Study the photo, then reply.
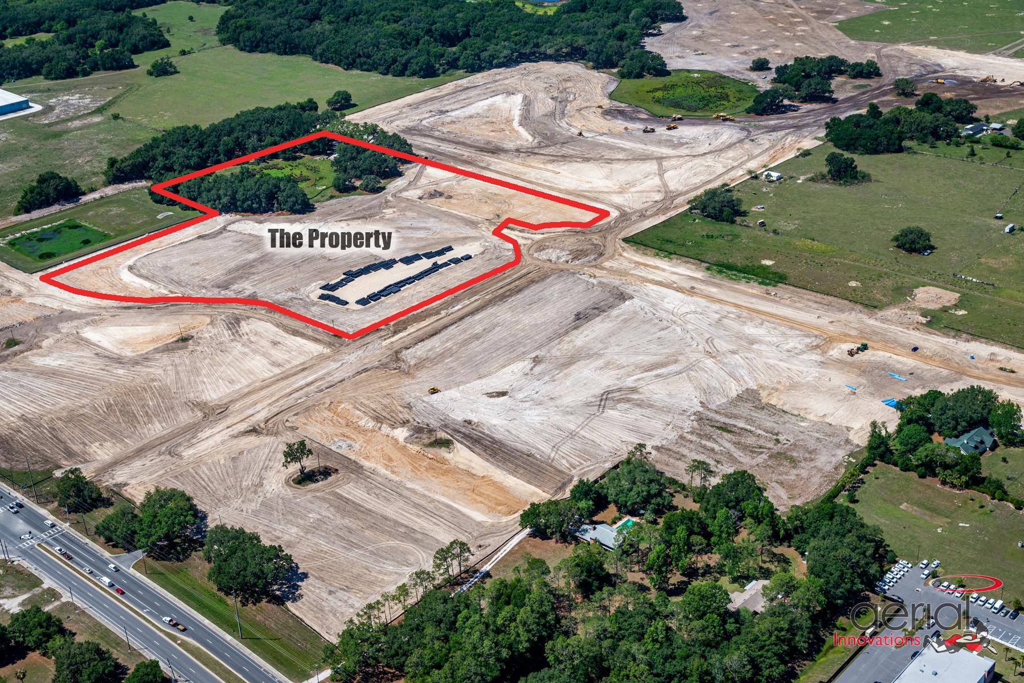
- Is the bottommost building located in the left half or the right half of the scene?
right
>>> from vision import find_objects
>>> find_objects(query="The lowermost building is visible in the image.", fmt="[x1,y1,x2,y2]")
[897,637,998,683]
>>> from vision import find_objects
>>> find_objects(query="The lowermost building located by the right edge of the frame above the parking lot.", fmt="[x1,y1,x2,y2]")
[937,427,1002,464]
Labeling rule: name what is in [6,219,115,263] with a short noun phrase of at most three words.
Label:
pond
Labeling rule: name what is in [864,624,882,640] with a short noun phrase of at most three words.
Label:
vehicle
